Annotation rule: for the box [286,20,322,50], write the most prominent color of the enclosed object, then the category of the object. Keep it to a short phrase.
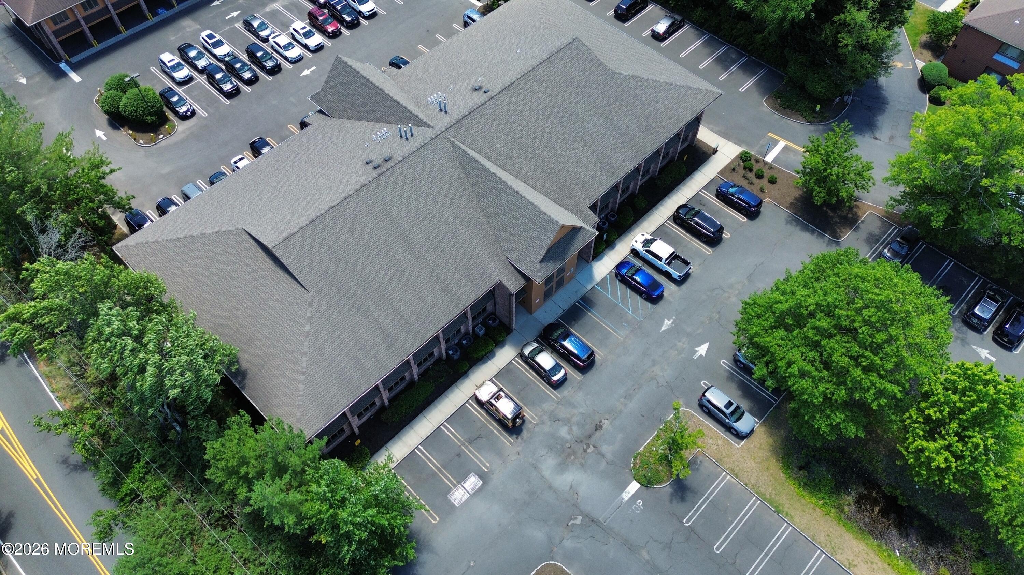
white car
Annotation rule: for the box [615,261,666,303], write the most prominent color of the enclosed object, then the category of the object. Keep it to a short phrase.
blue car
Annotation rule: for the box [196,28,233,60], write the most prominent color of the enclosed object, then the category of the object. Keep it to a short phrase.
white car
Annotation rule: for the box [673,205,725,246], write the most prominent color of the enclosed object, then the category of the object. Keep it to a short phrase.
black car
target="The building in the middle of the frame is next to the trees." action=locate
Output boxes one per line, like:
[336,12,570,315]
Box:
[111,0,724,458]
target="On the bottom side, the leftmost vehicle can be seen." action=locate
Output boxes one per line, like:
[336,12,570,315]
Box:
[471,378,526,430]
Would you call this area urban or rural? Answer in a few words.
urban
